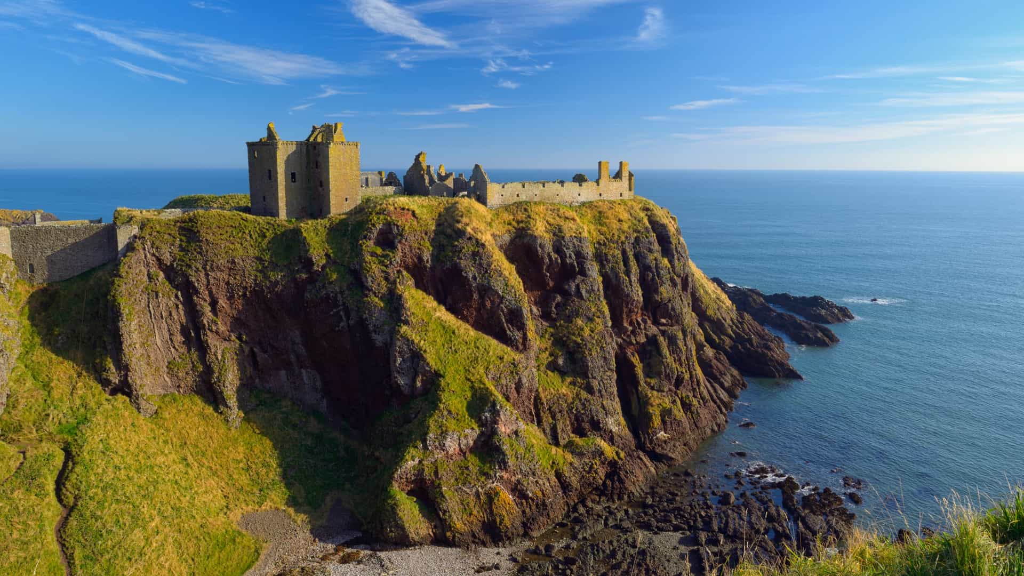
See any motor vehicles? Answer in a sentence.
No, the scene contains no motor vehicle.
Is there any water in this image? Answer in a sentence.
Yes, there's water in this view.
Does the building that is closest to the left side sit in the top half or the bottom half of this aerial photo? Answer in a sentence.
The top half of the photo is where the building that is closest to the left side is.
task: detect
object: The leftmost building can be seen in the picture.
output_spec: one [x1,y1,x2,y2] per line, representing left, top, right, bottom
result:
[244,123,361,218]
